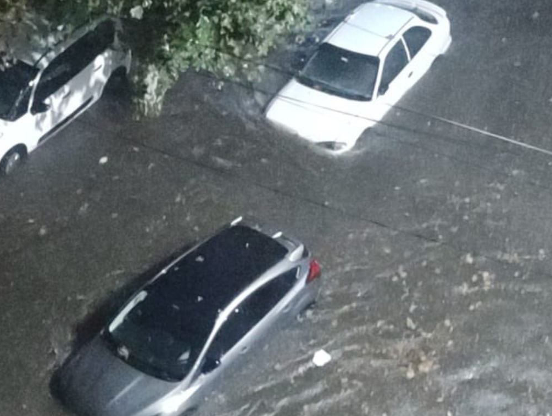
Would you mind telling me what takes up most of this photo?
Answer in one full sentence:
For the most part, this view shows water.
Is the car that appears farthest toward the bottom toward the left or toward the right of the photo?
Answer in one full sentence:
The car that appears farthest toward the bottom appears in the left half of the scene.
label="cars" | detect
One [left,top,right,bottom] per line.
[0,10,131,175]
[54,218,315,416]
[258,0,445,155]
